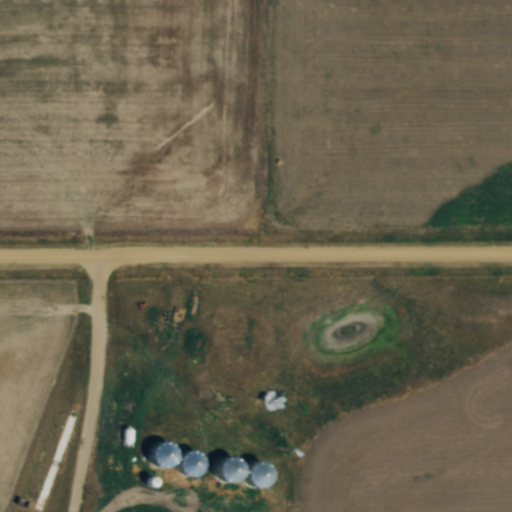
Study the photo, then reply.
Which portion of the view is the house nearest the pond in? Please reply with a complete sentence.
You can find the house nearest the pond in the bottom area of the picture.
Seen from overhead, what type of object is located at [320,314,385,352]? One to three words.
pond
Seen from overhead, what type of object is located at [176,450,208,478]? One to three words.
silo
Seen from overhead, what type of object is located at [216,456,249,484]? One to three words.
silo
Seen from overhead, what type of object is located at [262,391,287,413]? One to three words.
house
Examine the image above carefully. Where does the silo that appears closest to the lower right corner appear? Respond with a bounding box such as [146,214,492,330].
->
[245,461,278,490]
